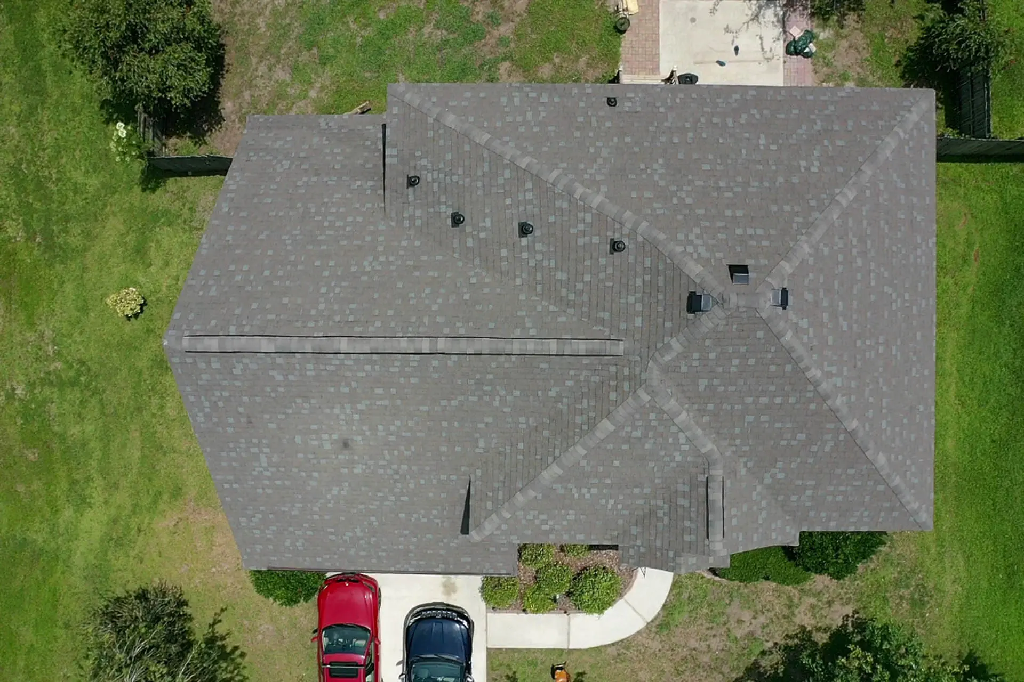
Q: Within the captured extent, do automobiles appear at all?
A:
Yes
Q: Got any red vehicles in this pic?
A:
Yes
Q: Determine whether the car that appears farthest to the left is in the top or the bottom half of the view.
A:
bottom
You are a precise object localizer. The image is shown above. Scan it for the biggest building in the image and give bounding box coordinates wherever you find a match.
[165,82,937,577]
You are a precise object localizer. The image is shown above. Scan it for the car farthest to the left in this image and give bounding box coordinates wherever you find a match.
[306,574,381,682]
